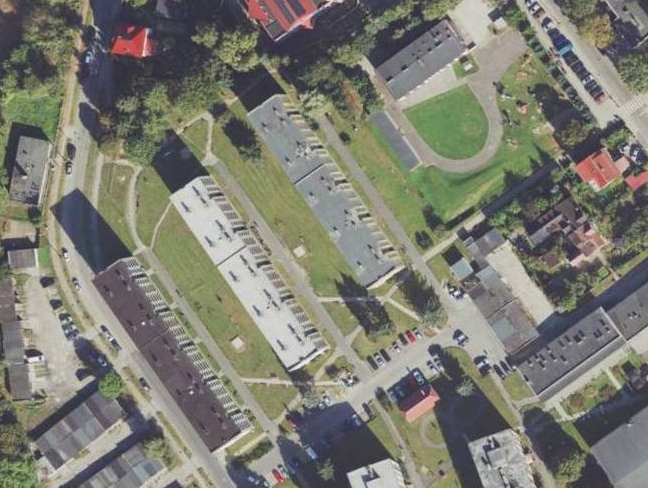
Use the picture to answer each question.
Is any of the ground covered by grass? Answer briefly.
Yes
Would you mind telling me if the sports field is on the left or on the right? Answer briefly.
right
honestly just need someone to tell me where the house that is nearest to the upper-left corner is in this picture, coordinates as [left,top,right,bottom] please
[112,28,158,58]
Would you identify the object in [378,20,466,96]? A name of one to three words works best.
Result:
building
